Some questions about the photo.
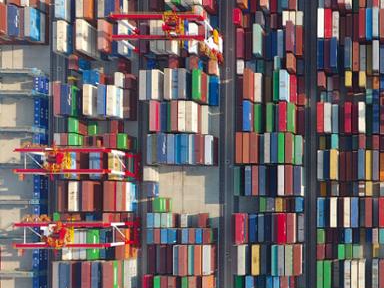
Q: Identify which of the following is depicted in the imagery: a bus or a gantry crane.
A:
gantry crane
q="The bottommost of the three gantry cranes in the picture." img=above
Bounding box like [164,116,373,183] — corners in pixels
[12,215,143,253]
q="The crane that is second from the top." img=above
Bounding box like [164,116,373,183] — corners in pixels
[12,143,143,181]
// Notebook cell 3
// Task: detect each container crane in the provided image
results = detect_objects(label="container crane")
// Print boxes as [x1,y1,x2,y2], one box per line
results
[111,8,229,88]
[12,143,143,181]
[12,215,143,253]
